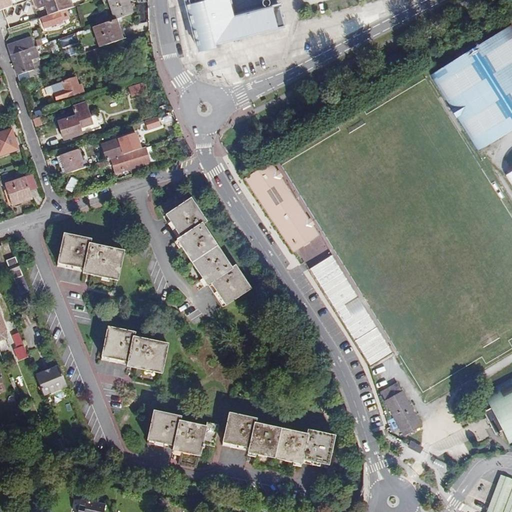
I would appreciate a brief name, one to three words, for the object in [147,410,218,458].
building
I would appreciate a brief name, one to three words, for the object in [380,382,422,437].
building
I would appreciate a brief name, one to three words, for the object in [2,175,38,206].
house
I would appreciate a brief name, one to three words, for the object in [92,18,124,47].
house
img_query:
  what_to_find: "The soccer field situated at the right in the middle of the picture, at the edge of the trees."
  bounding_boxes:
[283,80,512,390]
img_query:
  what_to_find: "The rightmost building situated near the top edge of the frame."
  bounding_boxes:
[431,26,512,152]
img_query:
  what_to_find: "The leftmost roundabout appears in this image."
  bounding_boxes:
[178,80,233,137]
